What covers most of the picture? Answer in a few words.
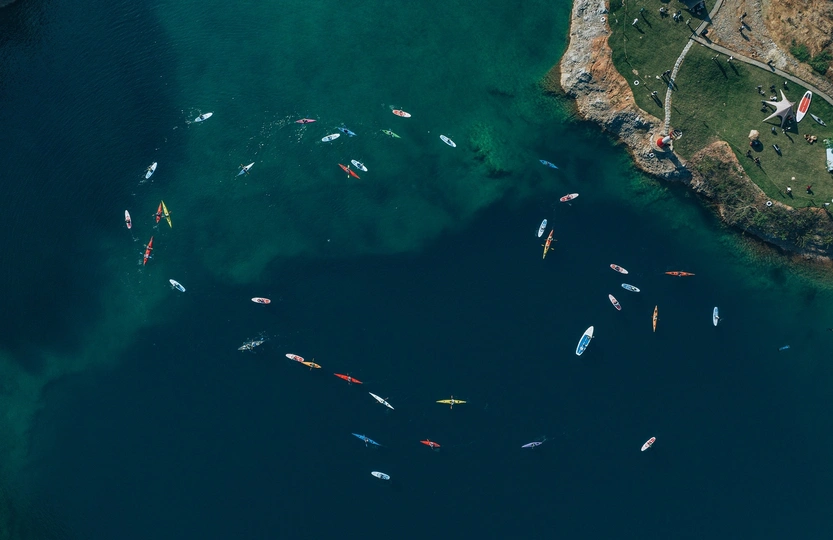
water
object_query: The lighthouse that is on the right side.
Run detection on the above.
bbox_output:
[651,128,682,153]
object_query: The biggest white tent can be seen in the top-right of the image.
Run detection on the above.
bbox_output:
[763,89,796,128]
